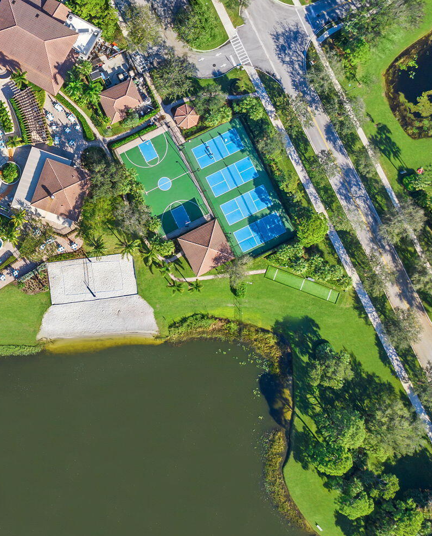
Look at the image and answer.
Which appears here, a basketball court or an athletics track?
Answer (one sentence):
Of the two, only a basketball court appears.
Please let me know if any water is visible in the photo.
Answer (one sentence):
Yes, water shows up in the scene.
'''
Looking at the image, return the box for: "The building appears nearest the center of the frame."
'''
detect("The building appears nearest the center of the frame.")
[175,218,235,277]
